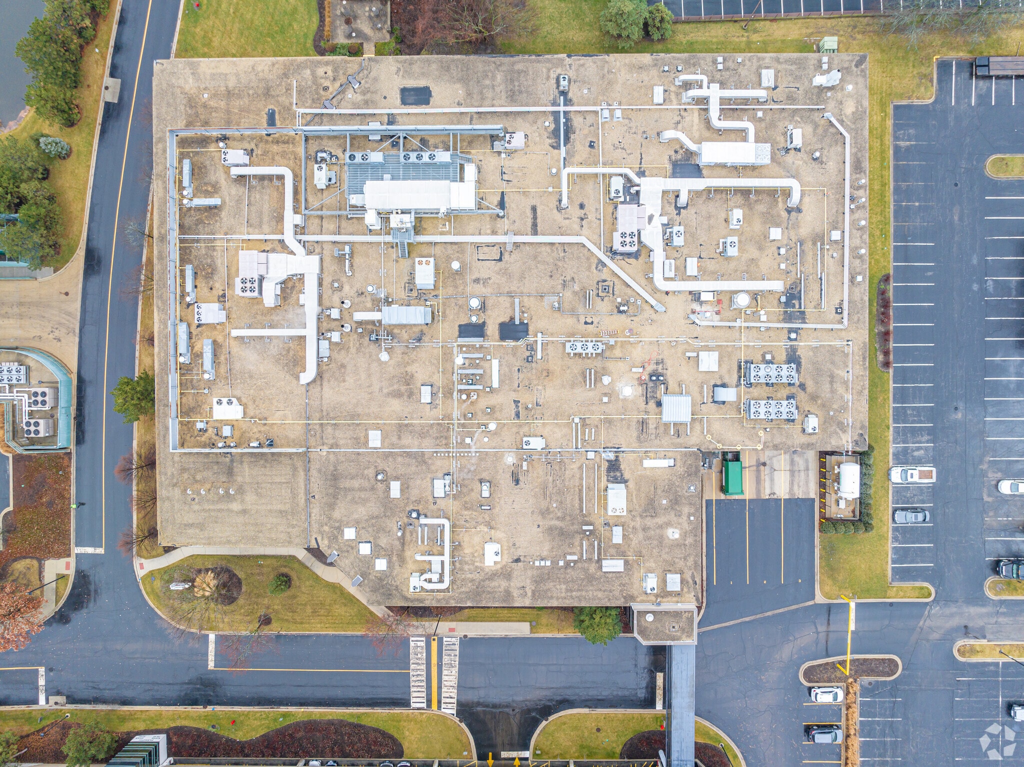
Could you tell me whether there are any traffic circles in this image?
No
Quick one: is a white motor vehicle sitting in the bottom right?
Yes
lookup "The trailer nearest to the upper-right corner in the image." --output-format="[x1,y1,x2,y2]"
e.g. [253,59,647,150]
[971,56,1024,78]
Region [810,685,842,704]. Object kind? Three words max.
car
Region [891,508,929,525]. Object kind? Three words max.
car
